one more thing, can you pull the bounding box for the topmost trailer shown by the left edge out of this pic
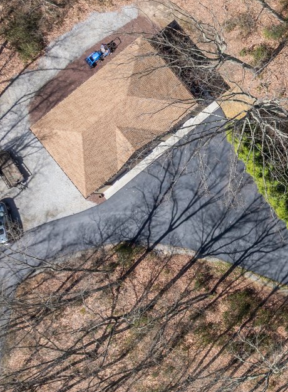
[0,150,25,192]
